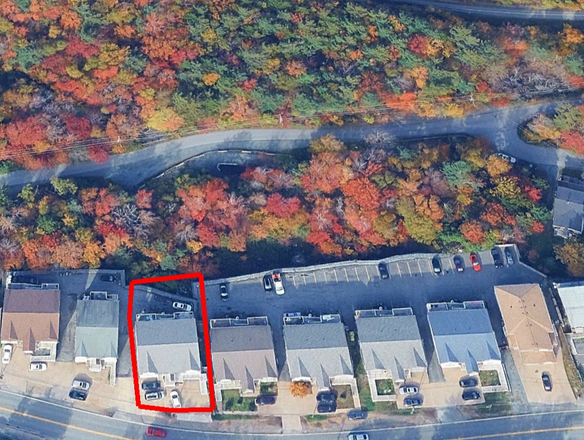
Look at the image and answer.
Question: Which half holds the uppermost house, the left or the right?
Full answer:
It is on the right.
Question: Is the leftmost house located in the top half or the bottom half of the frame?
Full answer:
You can find the leftmost house in the bottom half.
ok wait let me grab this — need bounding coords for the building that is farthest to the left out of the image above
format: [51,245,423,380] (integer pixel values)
[1,282,61,363]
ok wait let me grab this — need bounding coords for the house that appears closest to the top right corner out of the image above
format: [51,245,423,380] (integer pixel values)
[552,175,584,240]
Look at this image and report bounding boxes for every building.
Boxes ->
[74,291,119,386]
[283,313,361,408]
[425,299,511,394]
[493,283,562,367]
[552,175,584,240]
[556,281,584,343]
[355,304,427,403]
[210,315,277,403]
[1,282,61,363]
[136,311,209,395]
